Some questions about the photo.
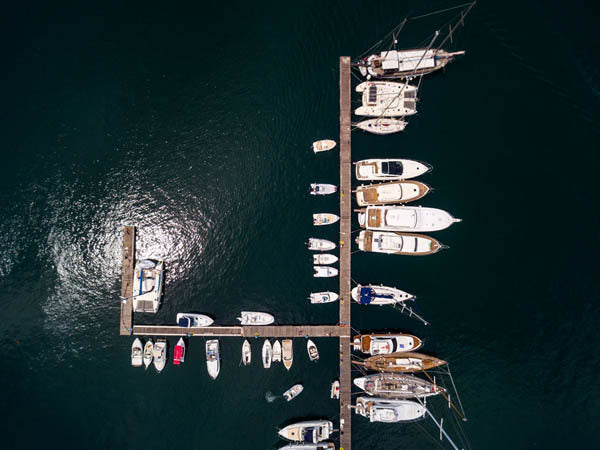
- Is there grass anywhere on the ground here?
No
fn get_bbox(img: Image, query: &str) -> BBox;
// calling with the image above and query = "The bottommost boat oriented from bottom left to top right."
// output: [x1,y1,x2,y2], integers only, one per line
[282,384,304,403]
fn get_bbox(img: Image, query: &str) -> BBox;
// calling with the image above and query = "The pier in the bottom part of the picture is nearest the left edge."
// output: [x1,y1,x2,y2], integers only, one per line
[120,226,137,335]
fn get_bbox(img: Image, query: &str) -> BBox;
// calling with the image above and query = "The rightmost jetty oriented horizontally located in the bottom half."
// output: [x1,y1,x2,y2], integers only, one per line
[242,324,340,337]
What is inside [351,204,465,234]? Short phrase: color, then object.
white boat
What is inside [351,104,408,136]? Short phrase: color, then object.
white boat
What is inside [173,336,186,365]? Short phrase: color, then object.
red boat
